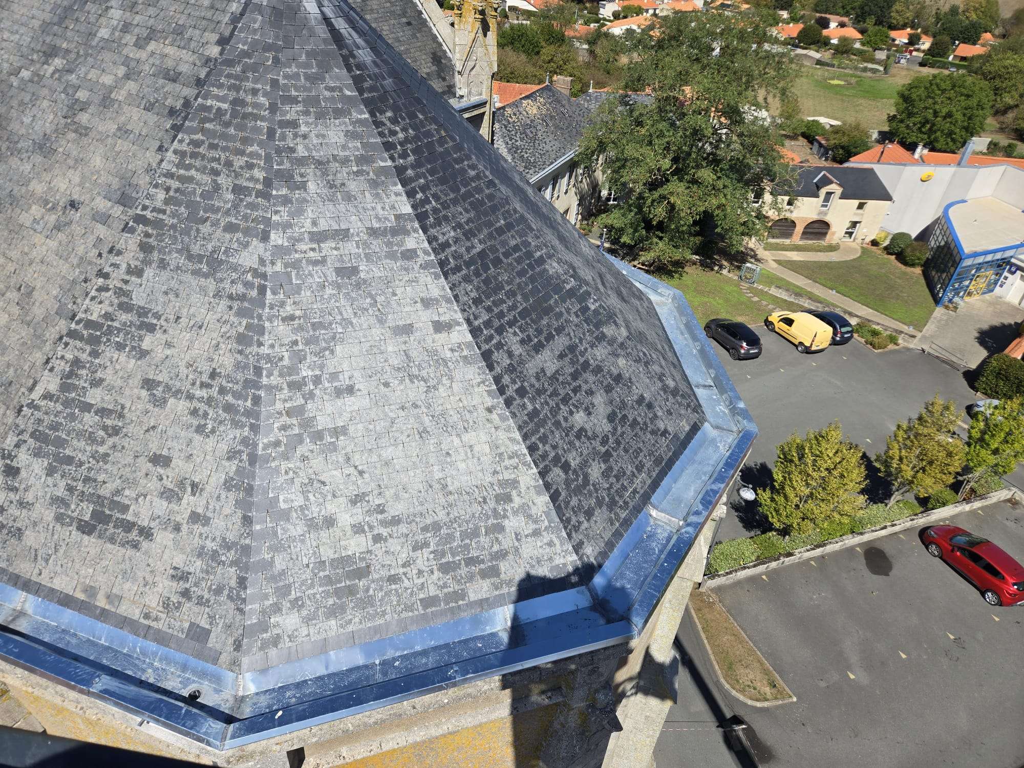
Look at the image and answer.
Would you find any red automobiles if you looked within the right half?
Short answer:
Yes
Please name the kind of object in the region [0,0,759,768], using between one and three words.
church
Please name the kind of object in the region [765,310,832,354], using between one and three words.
van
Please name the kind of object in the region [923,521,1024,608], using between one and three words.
car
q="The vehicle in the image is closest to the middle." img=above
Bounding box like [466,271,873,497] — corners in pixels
[705,316,764,360]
